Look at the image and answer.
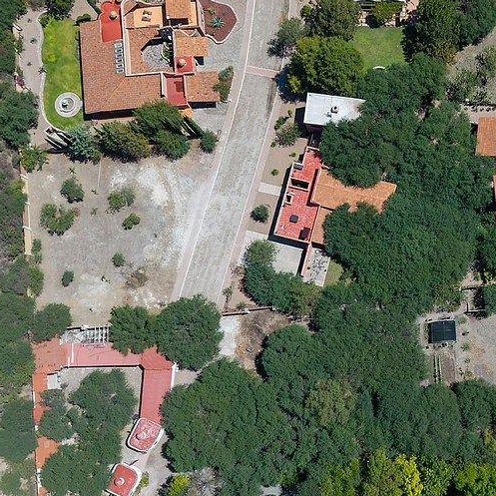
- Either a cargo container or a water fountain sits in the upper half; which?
water fountain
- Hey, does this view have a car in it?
No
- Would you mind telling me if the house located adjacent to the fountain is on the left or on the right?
left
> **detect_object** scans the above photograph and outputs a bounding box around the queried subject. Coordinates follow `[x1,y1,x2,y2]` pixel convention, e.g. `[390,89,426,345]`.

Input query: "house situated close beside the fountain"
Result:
[80,0,221,117]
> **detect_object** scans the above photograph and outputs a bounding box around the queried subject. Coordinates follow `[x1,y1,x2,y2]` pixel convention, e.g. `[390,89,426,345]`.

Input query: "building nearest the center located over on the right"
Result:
[275,146,398,287]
